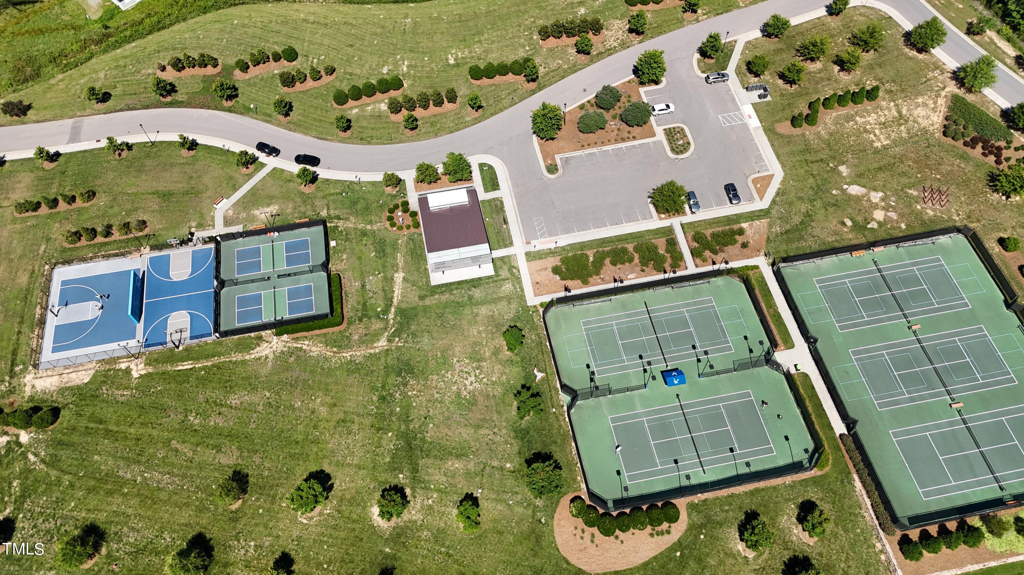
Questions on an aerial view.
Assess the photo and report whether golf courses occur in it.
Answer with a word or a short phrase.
No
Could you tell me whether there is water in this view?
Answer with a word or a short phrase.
No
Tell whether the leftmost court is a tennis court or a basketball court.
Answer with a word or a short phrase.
basketball court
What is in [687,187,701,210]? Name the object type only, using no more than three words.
car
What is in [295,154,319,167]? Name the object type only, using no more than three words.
vehicle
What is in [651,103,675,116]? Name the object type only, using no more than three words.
vehicle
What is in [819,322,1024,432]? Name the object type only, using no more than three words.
tennis court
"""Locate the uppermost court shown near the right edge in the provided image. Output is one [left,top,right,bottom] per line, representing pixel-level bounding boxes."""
[781,234,1020,348]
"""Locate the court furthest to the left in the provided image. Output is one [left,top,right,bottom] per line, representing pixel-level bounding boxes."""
[39,257,141,370]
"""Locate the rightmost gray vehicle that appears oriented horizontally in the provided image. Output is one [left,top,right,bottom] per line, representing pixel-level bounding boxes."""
[706,72,730,84]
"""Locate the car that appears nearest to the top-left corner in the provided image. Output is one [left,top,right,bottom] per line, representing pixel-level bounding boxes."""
[256,142,279,157]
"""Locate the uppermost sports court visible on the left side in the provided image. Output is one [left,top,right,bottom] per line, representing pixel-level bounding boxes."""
[220,226,326,284]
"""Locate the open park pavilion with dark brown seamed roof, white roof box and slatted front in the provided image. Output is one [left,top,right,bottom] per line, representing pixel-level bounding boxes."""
[418,185,493,273]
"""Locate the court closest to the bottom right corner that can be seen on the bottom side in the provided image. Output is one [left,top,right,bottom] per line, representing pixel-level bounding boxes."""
[861,405,1024,517]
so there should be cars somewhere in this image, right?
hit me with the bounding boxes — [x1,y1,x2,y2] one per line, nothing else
[687,187,701,210]
[256,142,279,157]
[651,103,675,116]
[295,154,319,167]
[724,181,741,204]
[706,72,730,84]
